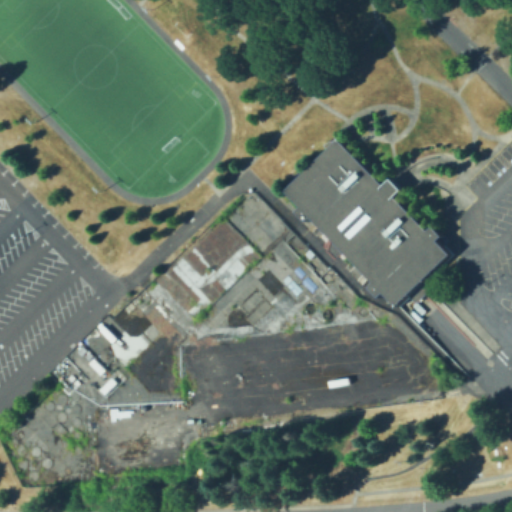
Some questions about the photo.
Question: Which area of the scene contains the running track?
top left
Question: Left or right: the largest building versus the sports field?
on its right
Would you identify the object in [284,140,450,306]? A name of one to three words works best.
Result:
building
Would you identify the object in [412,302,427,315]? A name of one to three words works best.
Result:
vehicle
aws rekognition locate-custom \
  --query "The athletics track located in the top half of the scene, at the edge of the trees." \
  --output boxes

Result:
[0,0,233,204]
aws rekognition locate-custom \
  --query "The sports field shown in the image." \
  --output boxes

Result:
[0,0,225,196]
